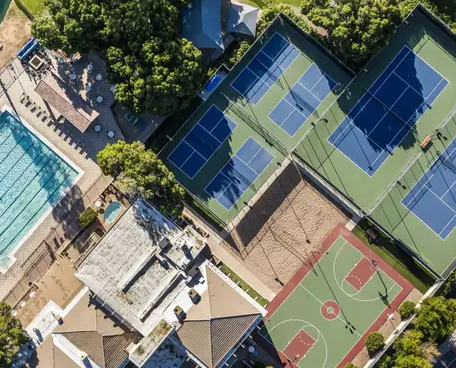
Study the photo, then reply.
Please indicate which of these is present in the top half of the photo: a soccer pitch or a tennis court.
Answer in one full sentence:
You can see a tennis court in the top half of the photo.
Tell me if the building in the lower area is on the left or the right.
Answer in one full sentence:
The building in the lower area appears in the left half of the scene.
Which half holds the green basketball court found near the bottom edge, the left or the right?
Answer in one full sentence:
The green basketball court found near the bottom edge sits on the right side.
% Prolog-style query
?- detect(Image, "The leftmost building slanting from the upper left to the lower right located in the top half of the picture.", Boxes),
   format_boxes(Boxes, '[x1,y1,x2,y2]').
[35,72,100,133]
